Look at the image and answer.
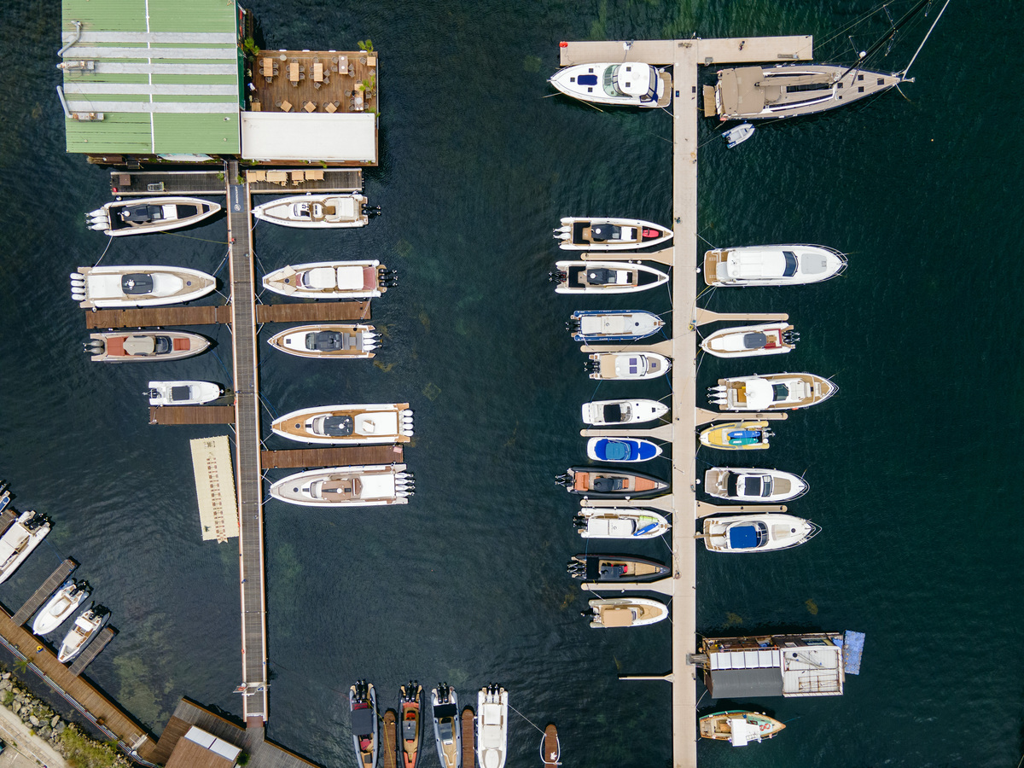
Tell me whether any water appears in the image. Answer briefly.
Yes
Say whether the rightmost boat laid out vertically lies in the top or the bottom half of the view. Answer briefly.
bottom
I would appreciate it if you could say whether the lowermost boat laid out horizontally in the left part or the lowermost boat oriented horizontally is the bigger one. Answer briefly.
the lowermost boat laid out horizontally in the left part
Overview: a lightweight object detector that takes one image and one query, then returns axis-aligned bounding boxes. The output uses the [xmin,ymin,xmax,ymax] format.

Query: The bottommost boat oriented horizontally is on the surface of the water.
[697,708,788,746]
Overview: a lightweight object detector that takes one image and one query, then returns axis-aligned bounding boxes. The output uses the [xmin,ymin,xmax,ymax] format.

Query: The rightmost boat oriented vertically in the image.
[478,682,508,768]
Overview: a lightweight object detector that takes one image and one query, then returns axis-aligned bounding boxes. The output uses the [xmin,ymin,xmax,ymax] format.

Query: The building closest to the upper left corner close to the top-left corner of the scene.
[55,0,258,176]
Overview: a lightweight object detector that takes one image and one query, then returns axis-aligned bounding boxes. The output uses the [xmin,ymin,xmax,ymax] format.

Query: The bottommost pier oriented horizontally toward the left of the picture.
[261,445,403,468]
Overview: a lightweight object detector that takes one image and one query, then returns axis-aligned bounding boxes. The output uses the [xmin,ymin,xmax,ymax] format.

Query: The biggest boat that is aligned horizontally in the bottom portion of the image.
[697,629,845,698]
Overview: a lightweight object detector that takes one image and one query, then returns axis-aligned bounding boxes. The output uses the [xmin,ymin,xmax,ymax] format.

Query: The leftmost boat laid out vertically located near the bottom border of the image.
[351,678,379,768]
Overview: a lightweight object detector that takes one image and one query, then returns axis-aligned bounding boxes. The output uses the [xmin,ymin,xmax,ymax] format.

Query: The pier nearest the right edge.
[843,628,866,675]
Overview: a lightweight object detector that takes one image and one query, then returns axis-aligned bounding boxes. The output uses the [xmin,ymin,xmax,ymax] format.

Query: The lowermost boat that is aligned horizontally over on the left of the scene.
[269,464,415,506]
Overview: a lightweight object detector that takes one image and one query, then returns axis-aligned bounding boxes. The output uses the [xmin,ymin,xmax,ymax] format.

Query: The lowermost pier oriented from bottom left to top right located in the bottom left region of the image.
[72,626,118,673]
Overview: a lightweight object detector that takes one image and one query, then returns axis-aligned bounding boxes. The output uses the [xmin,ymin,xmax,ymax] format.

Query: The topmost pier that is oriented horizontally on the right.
[580,247,673,266]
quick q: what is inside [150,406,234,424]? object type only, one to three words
pier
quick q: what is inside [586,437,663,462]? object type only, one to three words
boat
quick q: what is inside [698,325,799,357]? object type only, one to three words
boat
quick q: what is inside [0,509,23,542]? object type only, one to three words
pier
